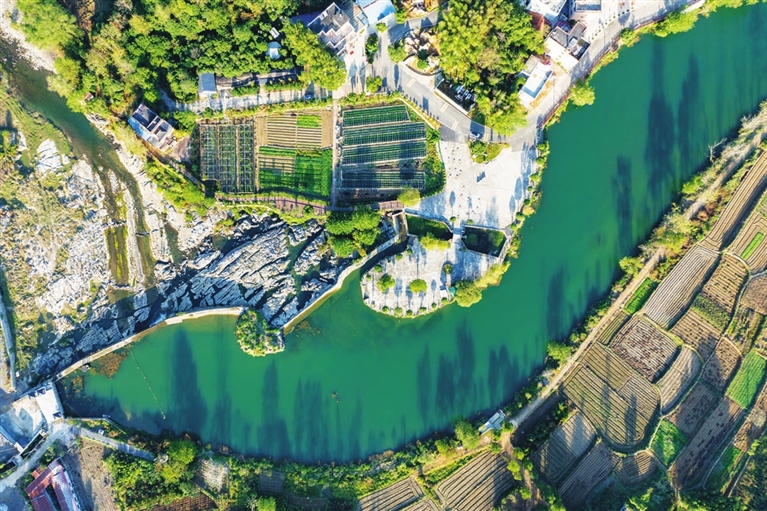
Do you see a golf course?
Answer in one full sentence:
No, there appears to be no golf course in this shot.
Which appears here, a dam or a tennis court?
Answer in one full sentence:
Visible in the photo is a dam.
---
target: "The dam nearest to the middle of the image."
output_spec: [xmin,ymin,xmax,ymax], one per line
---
[284,242,394,332]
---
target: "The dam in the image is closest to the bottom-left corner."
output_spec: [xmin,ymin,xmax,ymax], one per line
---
[53,309,247,383]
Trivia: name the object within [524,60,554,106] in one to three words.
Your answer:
building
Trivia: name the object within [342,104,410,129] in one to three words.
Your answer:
house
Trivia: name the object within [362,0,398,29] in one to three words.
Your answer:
building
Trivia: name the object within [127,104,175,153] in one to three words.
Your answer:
house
